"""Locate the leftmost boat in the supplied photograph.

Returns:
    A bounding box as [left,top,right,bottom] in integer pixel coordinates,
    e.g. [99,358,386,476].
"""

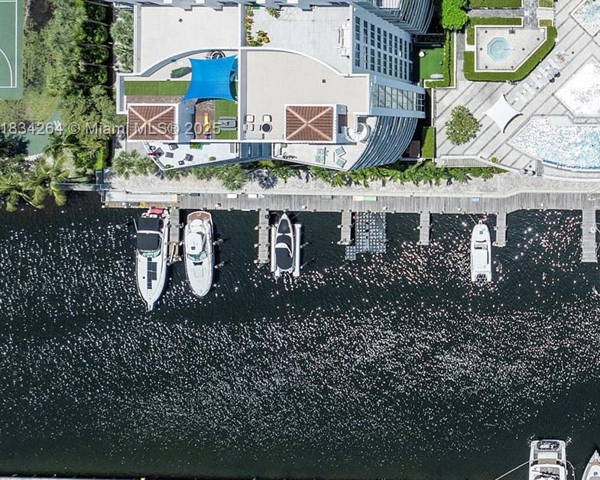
[136,210,171,313]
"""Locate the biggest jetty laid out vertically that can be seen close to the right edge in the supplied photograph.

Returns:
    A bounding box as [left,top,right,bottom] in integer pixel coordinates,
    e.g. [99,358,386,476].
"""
[581,213,599,263]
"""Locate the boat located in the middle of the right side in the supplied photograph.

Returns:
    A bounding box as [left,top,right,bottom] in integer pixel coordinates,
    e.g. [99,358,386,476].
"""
[471,220,494,284]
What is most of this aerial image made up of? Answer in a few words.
water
